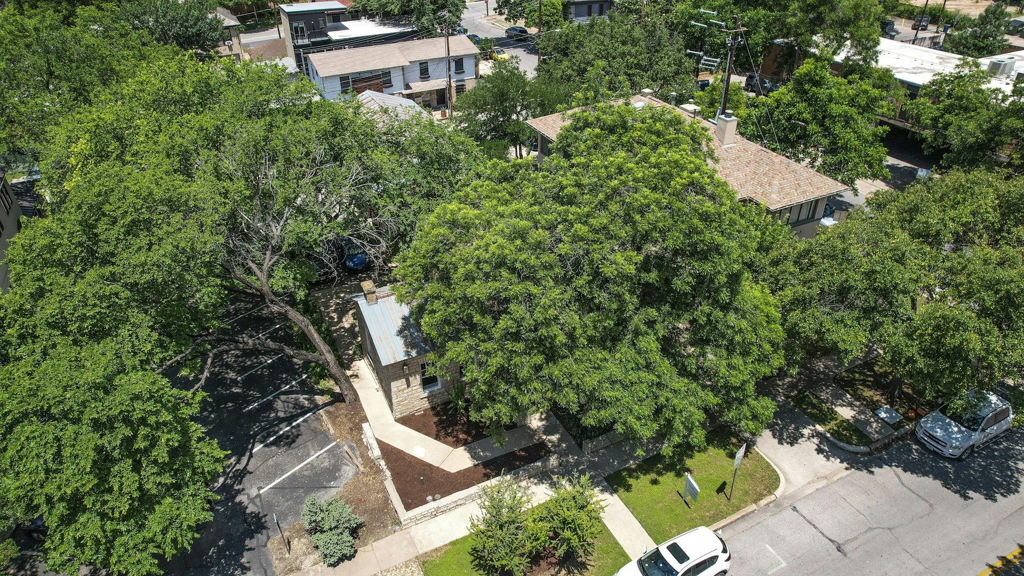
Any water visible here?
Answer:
No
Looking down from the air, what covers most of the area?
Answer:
trees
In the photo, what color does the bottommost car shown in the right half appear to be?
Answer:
white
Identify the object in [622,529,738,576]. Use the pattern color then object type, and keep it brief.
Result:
white car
